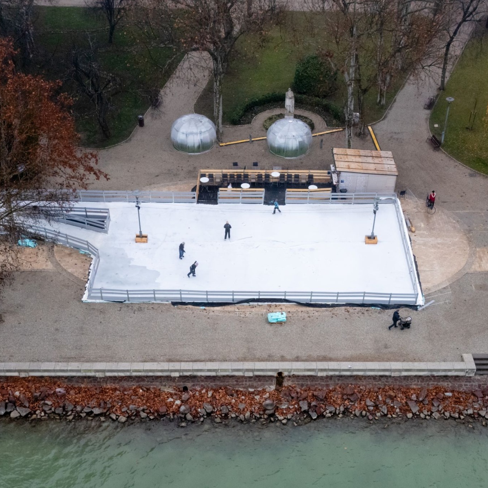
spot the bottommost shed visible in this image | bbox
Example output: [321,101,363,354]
[332,147,401,200]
